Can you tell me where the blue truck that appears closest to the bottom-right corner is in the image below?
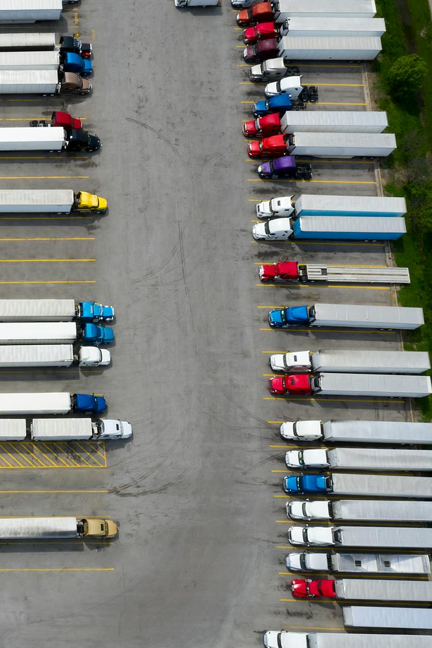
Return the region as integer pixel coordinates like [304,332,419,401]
[281,472,329,495]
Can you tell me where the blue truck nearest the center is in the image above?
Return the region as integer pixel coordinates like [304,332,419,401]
[267,306,317,328]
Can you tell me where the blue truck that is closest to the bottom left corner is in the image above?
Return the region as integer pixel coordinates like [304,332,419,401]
[51,394,106,415]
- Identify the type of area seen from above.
parking lot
